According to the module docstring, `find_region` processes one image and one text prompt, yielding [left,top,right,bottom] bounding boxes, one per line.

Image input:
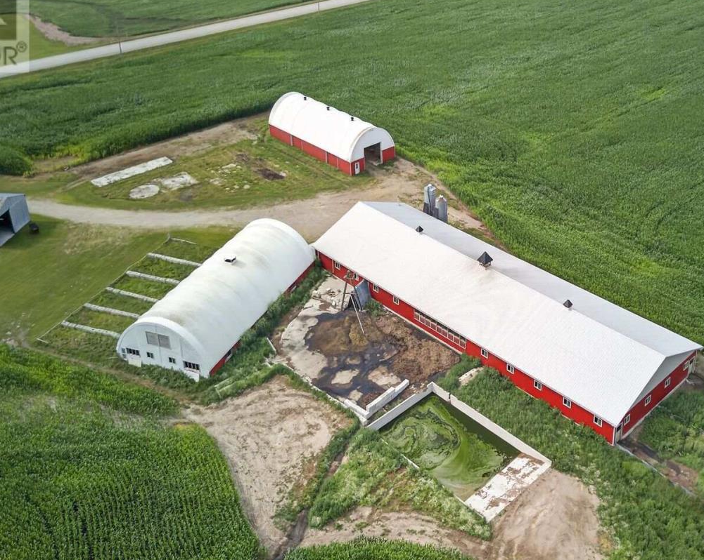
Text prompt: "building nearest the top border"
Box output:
[268,91,395,175]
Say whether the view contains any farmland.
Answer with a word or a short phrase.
Yes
